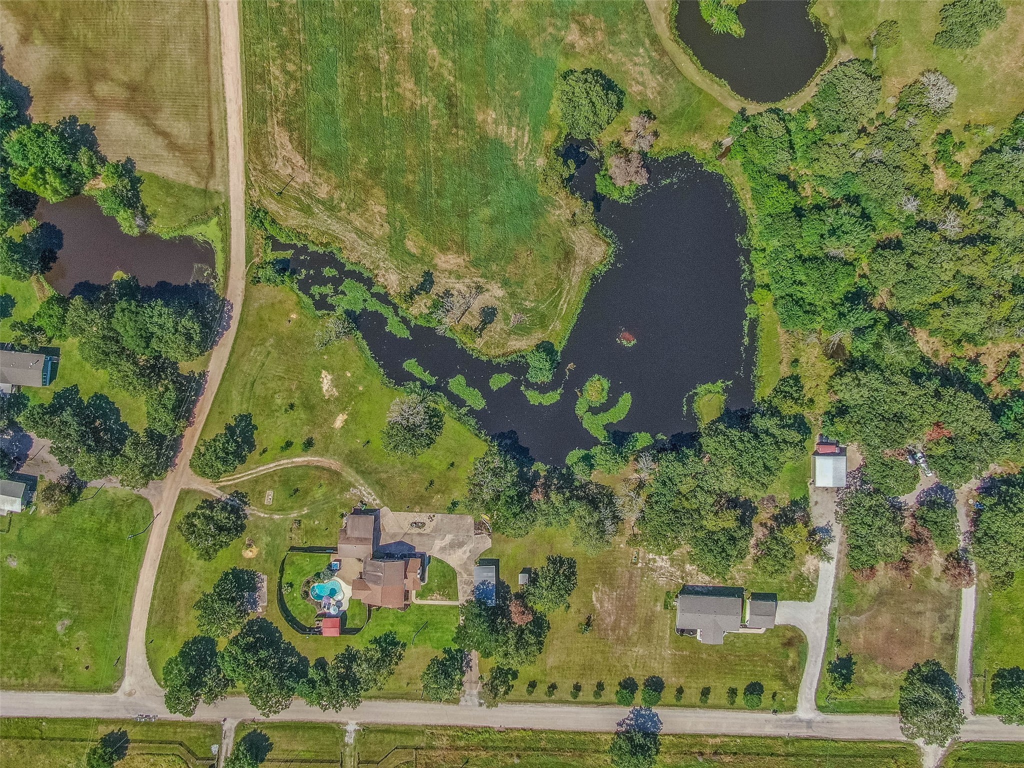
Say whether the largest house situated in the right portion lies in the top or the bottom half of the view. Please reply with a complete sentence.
The largest house situated in the right portion sits in the bottom half of the picture.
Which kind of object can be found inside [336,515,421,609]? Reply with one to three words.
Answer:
house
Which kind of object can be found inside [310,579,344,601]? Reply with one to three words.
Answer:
swimming pool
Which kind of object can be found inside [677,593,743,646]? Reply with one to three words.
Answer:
house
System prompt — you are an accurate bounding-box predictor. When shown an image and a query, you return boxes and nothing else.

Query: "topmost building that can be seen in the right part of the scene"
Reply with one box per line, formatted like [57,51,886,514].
[808,456,846,487]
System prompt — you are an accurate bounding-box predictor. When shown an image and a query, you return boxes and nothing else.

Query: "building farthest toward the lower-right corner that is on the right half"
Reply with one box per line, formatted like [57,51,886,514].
[747,600,776,628]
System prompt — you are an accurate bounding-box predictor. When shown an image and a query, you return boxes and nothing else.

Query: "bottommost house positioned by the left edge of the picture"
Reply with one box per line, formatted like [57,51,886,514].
[0,482,31,514]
